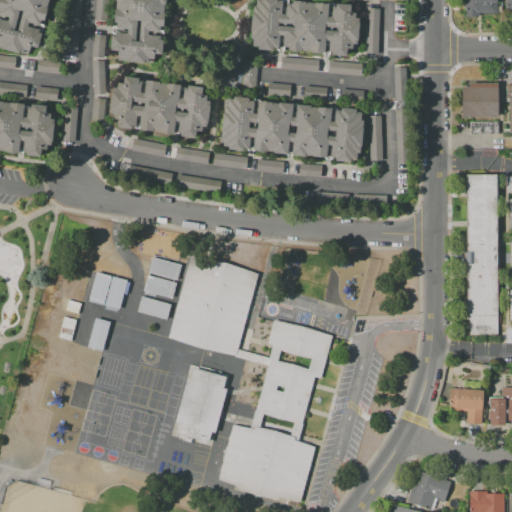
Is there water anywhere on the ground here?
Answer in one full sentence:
No, there's no water in this view.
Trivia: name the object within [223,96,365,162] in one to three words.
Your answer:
building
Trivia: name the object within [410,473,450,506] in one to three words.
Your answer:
house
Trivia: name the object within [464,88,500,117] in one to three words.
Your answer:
house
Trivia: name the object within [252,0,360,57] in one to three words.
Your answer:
building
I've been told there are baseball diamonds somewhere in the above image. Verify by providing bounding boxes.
[3,480,140,512]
